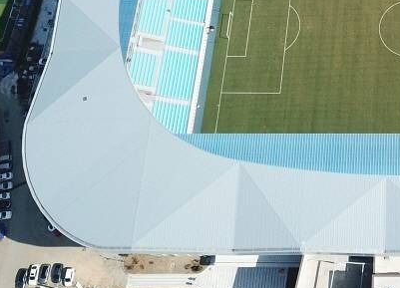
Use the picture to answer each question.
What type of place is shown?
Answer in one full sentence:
The picture captures a sports ground.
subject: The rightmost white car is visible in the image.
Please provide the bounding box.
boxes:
[61,266,73,287]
